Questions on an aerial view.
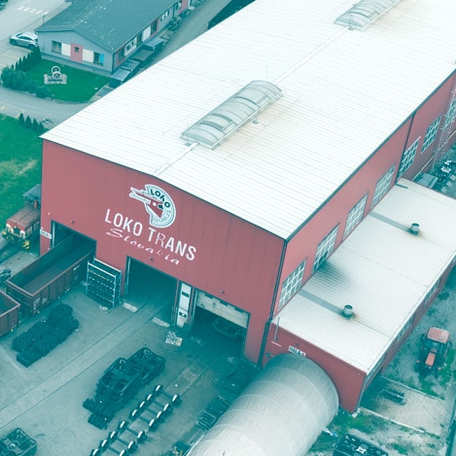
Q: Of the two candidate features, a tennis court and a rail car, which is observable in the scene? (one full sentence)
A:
The one in the frame is a rail car.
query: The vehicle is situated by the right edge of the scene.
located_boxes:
[412,327,455,365]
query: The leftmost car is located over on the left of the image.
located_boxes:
[11,33,40,49]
